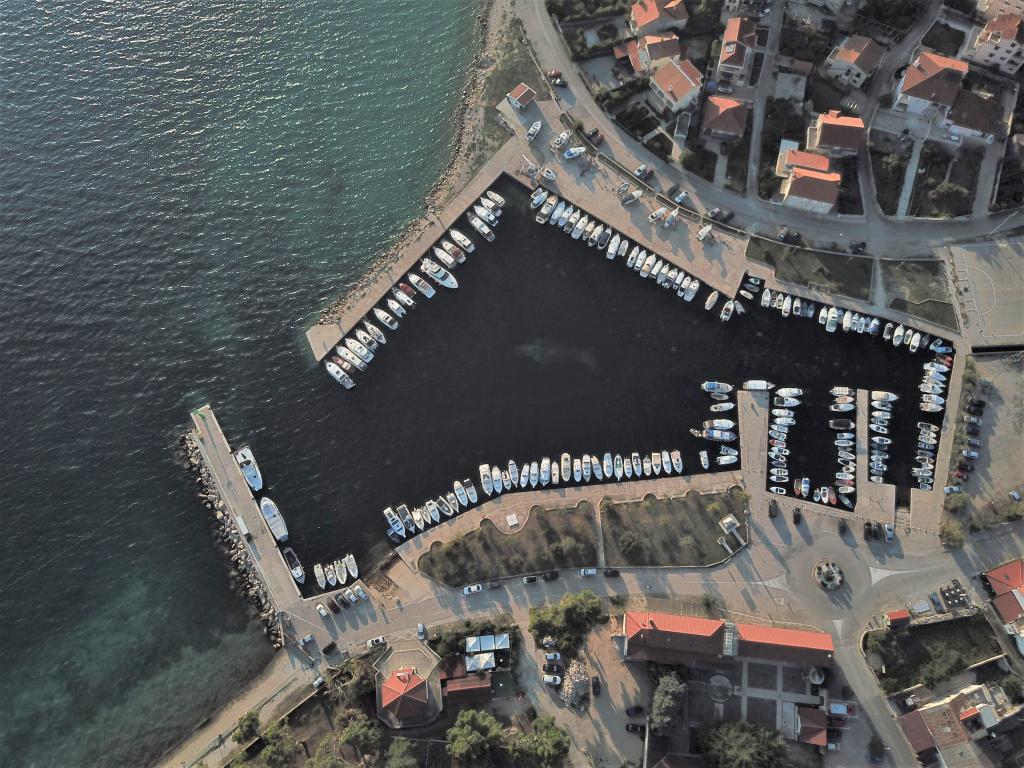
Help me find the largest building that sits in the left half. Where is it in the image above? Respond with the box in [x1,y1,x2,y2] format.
[373,640,443,729]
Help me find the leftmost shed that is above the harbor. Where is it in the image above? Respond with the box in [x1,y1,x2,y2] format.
[509,82,537,107]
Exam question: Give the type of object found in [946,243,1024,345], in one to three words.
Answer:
sports court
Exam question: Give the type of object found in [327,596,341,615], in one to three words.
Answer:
car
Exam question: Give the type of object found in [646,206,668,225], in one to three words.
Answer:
boat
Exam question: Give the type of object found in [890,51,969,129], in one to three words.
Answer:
house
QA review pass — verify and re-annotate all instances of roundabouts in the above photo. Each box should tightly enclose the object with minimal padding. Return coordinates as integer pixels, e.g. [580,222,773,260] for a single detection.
[754,530,905,638]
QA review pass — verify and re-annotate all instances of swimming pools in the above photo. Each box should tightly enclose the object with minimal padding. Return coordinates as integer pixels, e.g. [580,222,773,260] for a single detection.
[584,28,600,48]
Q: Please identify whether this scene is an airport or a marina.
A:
marina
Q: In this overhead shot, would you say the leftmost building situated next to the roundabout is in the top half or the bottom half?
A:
bottom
